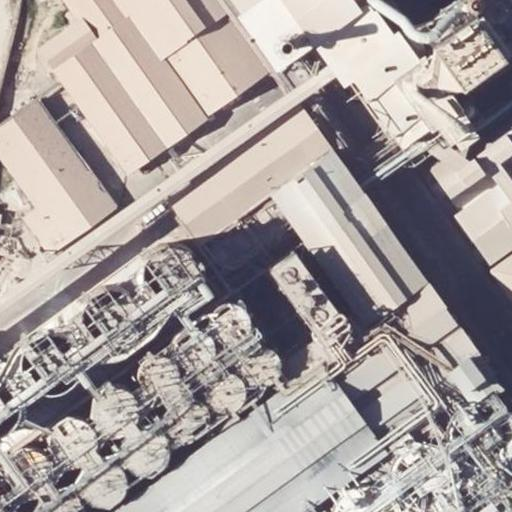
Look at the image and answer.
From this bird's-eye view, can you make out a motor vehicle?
Yes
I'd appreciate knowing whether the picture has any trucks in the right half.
No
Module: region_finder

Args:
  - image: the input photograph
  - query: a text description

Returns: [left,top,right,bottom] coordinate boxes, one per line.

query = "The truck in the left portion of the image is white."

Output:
[140,202,169,226]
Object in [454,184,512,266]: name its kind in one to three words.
building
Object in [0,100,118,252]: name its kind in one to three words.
shed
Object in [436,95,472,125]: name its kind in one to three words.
building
